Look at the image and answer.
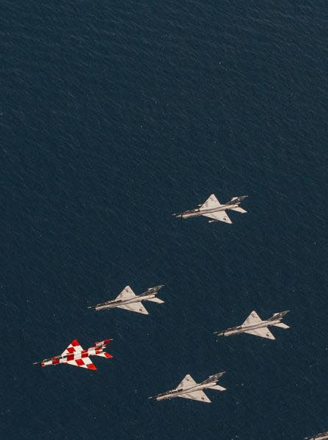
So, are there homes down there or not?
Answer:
No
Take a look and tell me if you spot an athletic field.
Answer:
No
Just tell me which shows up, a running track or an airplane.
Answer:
airplane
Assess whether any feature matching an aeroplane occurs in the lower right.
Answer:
Yes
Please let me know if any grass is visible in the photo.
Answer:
No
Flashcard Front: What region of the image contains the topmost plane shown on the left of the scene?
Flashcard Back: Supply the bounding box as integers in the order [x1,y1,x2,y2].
[88,285,163,314]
